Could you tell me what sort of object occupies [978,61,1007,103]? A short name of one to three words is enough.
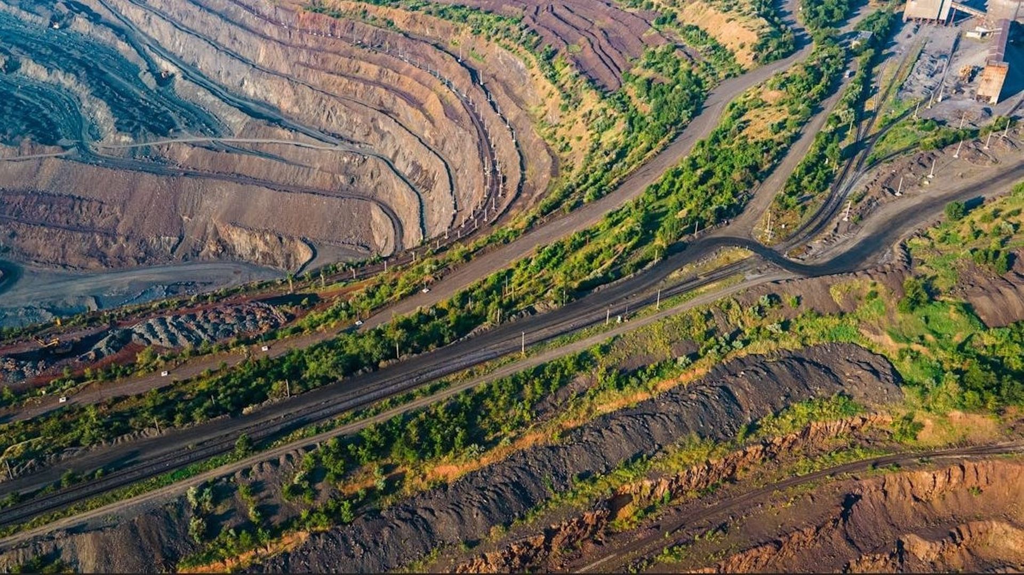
building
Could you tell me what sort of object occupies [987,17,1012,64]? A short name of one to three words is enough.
building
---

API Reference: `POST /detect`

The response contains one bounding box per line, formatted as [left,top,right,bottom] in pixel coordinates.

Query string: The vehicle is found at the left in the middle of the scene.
[39,336,64,352]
